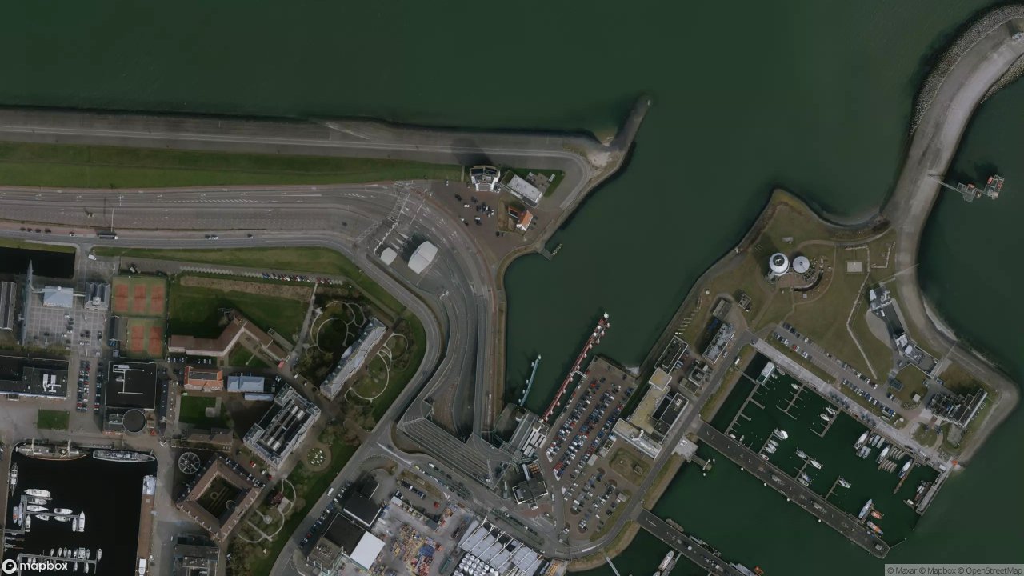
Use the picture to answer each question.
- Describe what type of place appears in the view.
port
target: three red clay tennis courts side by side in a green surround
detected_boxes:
[111,276,168,317]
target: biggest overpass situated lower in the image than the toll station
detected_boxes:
[397,297,518,489]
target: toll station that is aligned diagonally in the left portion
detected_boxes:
[375,195,425,250]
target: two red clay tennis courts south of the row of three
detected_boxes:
[125,318,166,358]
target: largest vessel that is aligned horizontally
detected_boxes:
[17,443,88,460]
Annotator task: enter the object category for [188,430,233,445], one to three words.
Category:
house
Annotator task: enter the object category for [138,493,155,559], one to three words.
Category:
pier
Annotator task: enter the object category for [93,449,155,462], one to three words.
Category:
ship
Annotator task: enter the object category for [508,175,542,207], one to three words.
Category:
building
